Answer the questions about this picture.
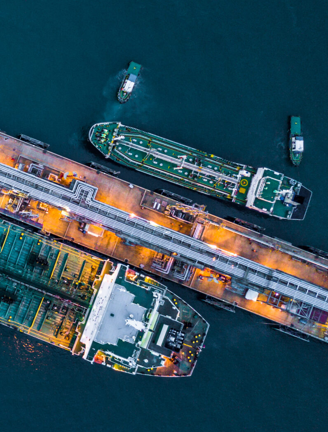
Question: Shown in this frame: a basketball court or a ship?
ship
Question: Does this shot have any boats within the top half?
Yes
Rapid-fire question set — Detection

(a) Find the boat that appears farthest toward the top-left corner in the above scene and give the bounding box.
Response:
[117,60,142,104]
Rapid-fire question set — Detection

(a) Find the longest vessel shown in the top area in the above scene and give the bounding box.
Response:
[87,122,313,220]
